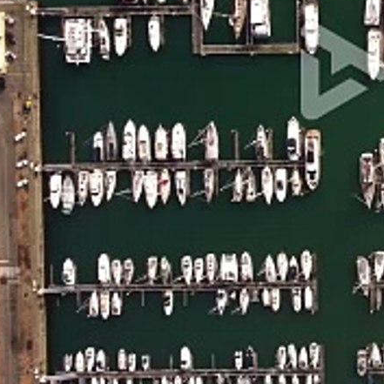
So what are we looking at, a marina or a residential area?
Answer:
marina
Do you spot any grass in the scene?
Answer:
No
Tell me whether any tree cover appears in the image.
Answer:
No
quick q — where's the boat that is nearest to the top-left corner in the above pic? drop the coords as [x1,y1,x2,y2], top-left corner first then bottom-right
[45,18,90,63]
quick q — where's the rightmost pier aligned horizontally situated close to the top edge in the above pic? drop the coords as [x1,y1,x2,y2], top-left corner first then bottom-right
[69,0,304,54]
